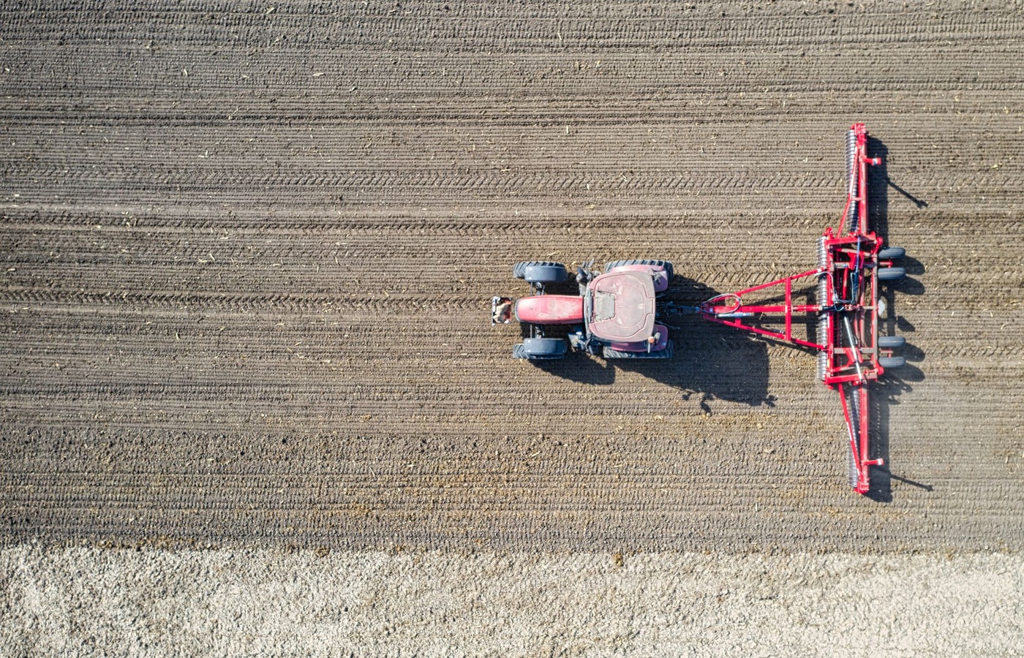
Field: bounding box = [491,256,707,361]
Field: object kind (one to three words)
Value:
work vehicle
